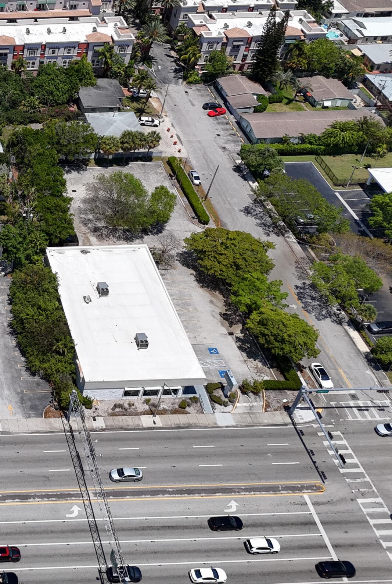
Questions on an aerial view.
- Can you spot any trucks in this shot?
No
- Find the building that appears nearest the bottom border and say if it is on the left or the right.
left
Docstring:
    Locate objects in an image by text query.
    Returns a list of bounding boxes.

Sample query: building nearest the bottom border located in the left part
[45,245,207,399]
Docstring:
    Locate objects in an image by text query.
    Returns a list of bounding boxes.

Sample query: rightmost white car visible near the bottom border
[244,537,282,556]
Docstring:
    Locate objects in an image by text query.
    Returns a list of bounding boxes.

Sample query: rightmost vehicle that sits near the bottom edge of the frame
[314,559,358,581]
